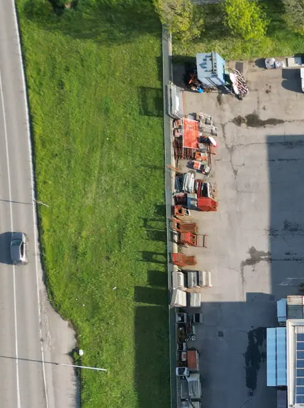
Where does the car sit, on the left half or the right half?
left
